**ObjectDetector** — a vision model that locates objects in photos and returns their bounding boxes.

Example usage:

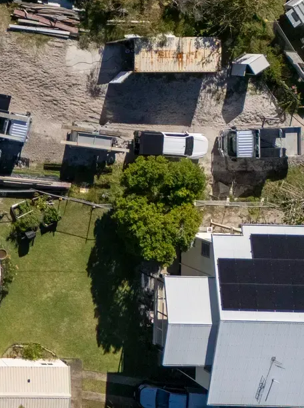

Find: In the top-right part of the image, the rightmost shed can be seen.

[223,54,269,76]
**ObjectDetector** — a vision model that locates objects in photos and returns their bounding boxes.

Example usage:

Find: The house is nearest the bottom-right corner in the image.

[152,218,304,408]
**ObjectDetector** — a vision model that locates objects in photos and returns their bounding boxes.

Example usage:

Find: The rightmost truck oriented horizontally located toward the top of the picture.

[212,127,304,160]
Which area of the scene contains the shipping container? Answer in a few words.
top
